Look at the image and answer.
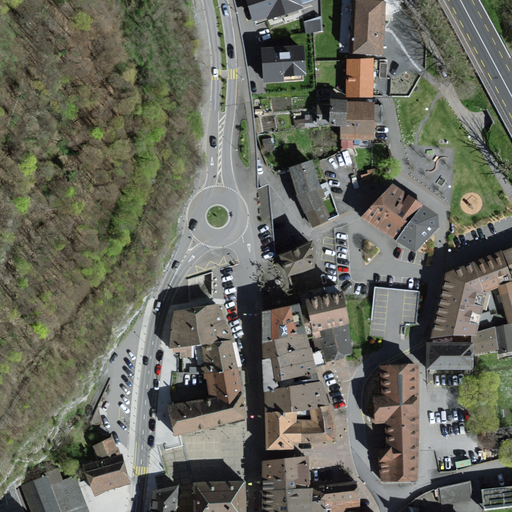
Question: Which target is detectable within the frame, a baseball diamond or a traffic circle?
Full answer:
The image shows a traffic circle.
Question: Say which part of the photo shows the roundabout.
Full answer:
You can find the roundabout in the center area of the picture.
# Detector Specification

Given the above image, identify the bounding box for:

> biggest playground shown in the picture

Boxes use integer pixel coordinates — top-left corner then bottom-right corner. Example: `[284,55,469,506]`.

[397,146,454,206]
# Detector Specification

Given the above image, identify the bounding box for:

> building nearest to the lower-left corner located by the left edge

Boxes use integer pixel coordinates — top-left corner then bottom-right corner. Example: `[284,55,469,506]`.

[20,467,90,512]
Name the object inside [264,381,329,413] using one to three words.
house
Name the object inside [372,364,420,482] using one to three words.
building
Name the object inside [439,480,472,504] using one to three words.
building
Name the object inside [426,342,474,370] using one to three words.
house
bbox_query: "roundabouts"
[186,185,249,248]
